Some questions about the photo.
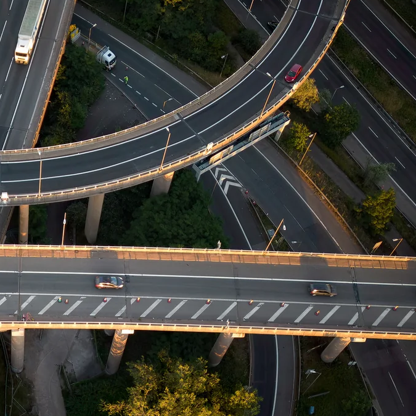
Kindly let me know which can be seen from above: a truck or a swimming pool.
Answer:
truck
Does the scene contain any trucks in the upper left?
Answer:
Yes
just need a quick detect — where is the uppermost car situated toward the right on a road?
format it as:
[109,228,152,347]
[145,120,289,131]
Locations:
[267,14,282,30]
